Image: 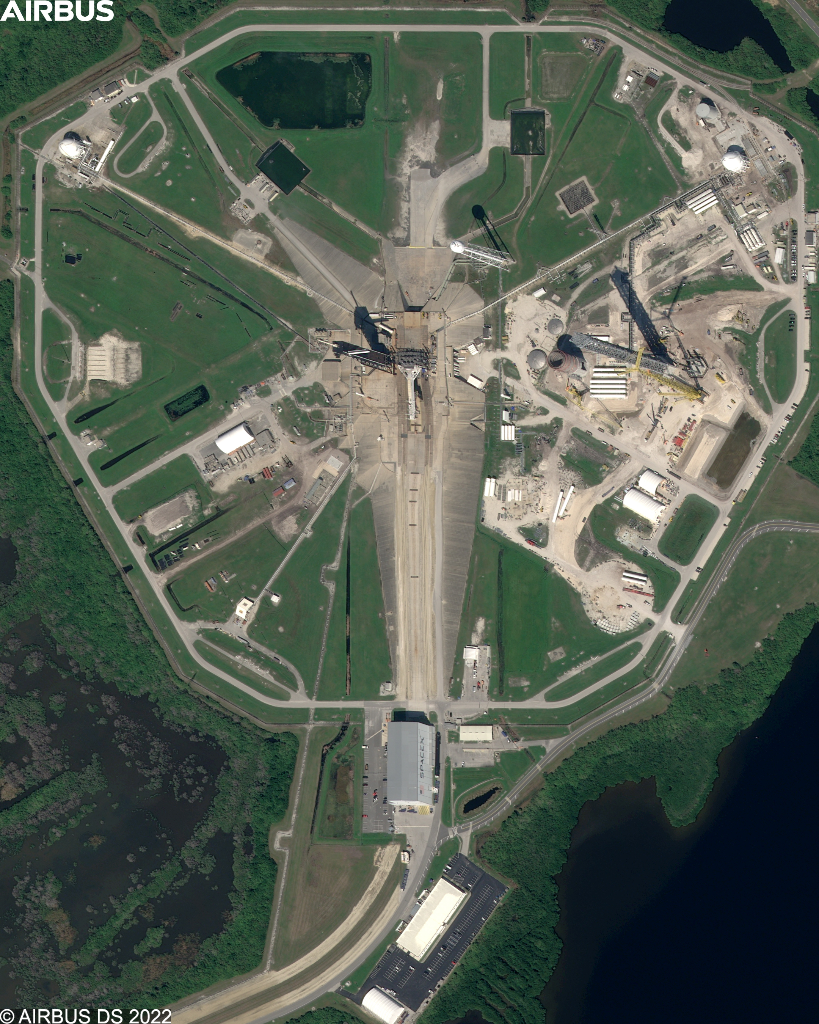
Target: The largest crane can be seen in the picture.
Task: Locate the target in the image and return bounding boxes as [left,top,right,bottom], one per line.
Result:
[617,343,710,406]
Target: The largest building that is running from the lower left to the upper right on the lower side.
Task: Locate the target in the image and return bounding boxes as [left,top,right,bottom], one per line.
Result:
[396,878,470,960]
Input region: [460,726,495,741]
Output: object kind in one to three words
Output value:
building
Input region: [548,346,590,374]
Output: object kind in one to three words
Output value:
storage tank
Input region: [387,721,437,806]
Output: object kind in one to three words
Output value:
hangar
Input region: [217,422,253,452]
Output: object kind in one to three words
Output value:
building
